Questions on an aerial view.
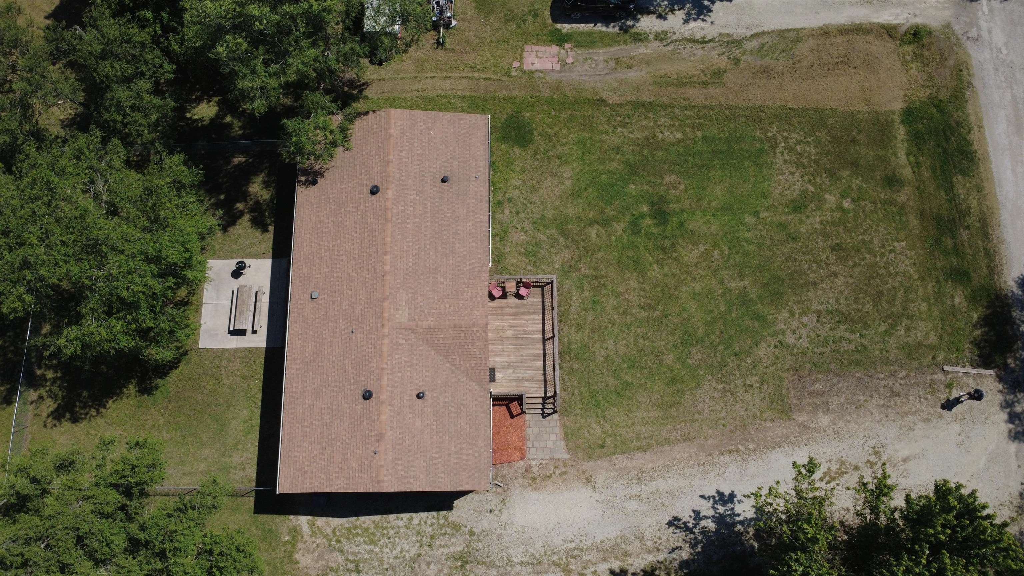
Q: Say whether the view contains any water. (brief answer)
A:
No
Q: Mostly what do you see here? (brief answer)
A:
grass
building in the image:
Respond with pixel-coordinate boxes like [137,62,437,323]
[277,109,493,494]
